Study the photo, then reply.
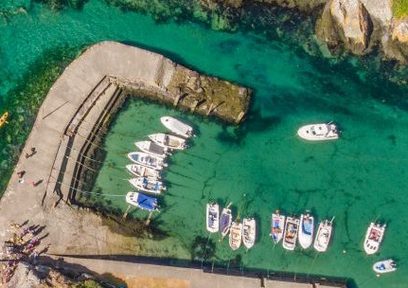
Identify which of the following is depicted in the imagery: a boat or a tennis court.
boat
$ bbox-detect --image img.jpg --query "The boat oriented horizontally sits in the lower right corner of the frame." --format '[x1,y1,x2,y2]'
[373,259,400,272]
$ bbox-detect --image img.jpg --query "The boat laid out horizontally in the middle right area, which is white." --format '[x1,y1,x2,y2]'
[298,125,344,142]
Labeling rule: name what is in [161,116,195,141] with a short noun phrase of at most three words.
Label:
boat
